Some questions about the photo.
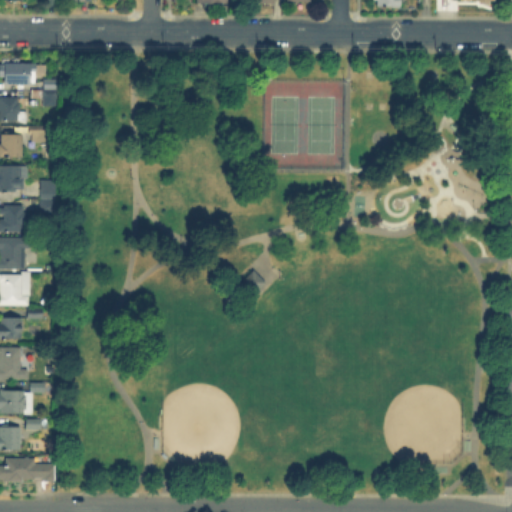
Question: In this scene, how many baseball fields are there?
2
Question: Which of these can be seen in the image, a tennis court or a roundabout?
tennis court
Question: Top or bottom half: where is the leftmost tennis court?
top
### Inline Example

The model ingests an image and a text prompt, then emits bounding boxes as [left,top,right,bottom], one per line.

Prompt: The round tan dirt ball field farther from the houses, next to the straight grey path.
[384,385,462,466]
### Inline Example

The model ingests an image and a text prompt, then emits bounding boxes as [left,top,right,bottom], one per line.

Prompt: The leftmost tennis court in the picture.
[264,82,304,168]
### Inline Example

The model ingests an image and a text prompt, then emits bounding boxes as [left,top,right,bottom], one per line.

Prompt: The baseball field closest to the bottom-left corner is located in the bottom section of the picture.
[164,384,241,470]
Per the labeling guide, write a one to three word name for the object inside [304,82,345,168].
tennis court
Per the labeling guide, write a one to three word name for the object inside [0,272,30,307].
house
